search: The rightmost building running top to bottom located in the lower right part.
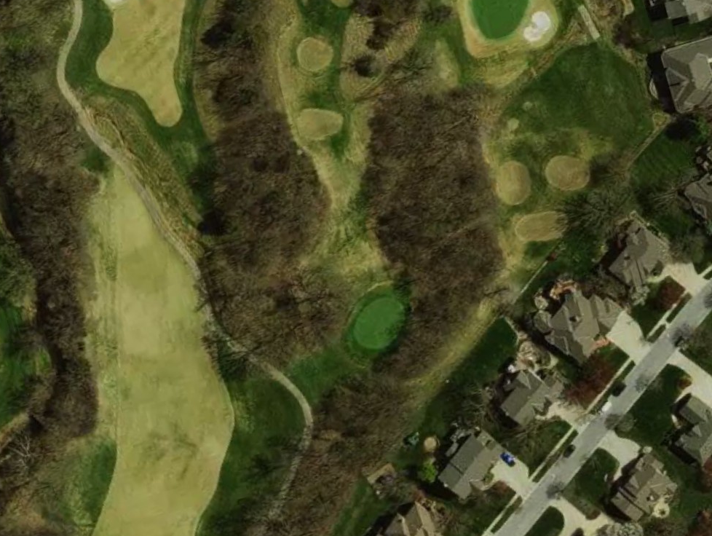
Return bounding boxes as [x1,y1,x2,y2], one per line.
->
[677,391,712,469]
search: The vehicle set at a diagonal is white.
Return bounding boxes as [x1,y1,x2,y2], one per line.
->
[601,401,614,415]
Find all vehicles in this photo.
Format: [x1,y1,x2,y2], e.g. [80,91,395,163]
[613,381,626,395]
[563,444,576,457]
[601,401,614,415]
[502,453,514,464]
